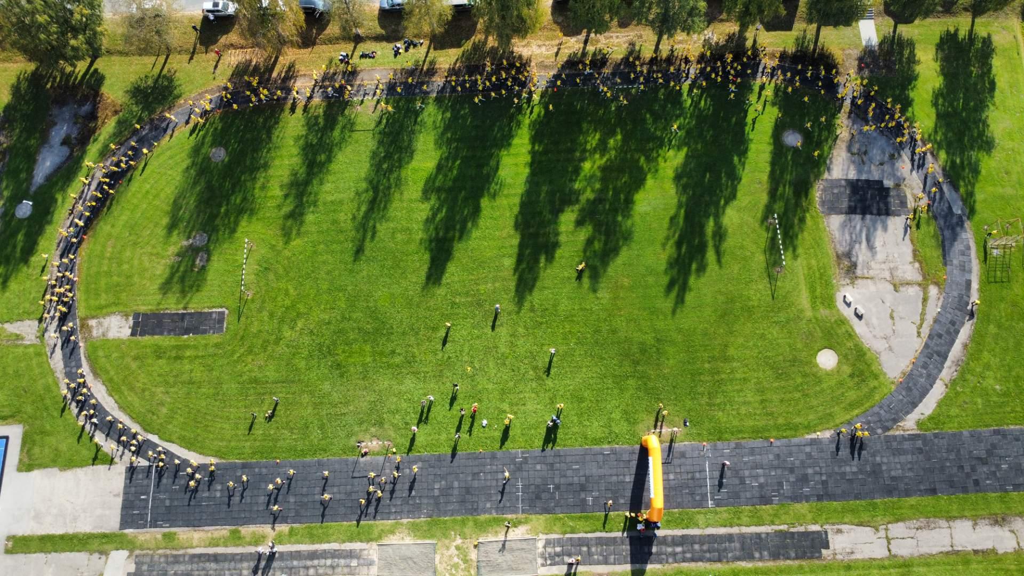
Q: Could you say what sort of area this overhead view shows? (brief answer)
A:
sports ground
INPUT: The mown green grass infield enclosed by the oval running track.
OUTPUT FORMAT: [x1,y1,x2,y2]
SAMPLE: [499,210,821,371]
[78,79,944,461]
